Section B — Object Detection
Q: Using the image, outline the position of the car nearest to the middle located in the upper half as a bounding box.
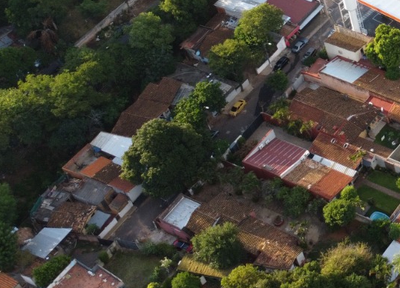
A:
[230,99,246,117]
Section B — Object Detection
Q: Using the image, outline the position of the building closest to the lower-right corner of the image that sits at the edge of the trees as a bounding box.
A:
[381,245,400,278]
